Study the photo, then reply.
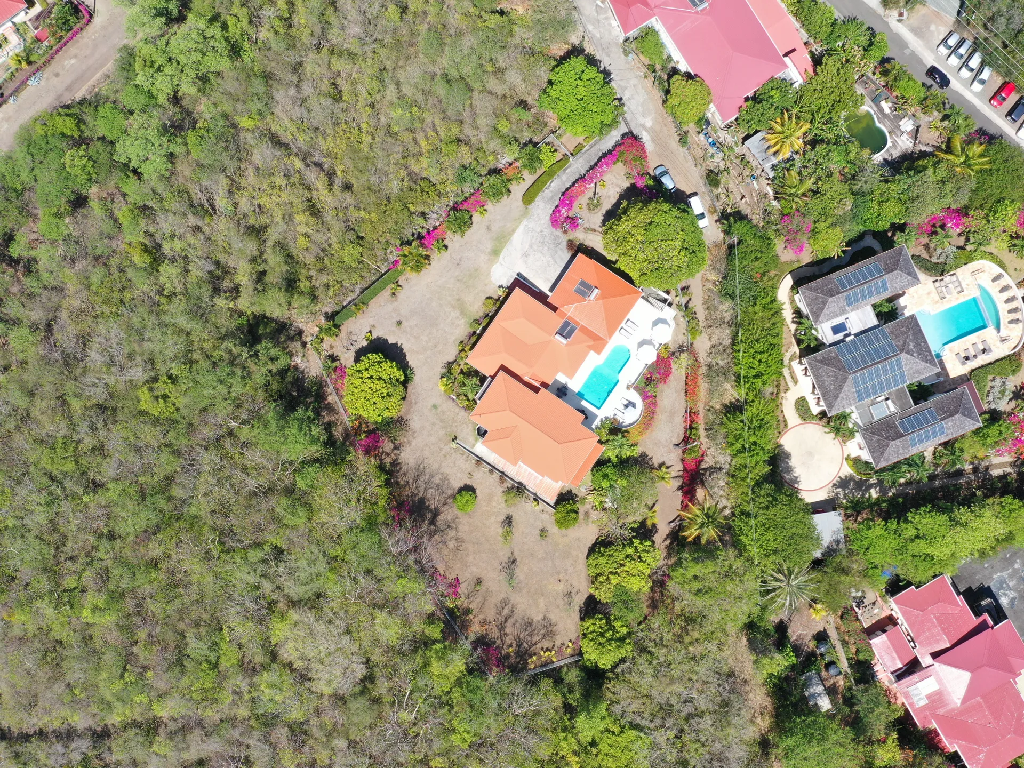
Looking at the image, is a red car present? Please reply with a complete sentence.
Yes, there's a red car here.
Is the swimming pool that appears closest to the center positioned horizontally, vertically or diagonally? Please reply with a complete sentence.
The swimming pool that appears closest to the center is oriented diagonally.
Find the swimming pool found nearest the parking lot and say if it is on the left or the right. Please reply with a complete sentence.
It is on the right.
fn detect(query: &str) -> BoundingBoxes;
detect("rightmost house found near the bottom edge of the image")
[847,576,1024,768]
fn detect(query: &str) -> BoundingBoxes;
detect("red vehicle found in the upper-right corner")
[986,80,1018,110]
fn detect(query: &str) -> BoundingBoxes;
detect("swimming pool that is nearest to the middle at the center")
[576,345,631,409]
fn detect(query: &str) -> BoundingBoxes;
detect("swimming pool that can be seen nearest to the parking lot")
[837,104,889,157]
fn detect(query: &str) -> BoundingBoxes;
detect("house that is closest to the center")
[466,253,643,502]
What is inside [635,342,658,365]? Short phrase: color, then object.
white umbrella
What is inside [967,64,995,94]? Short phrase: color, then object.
white car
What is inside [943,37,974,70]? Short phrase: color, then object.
white car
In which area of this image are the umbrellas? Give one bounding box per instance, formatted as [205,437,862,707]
[624,405,637,417]
[649,321,673,345]
[635,342,658,365]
